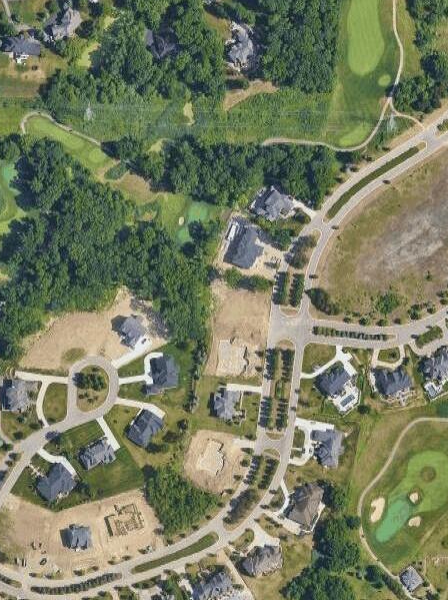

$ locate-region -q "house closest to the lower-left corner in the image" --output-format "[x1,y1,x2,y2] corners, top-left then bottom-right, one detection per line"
[68,525,93,550]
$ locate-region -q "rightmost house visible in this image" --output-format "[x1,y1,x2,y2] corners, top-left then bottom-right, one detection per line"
[420,345,448,381]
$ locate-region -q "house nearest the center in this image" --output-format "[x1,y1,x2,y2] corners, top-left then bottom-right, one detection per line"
[227,224,264,270]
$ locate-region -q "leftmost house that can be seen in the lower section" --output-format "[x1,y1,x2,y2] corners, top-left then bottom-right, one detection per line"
[0,380,30,411]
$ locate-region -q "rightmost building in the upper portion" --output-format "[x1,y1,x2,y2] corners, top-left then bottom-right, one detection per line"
[257,185,297,221]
